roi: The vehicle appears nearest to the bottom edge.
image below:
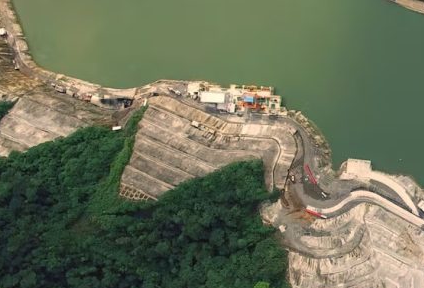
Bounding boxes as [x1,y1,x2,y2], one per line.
[305,206,326,219]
